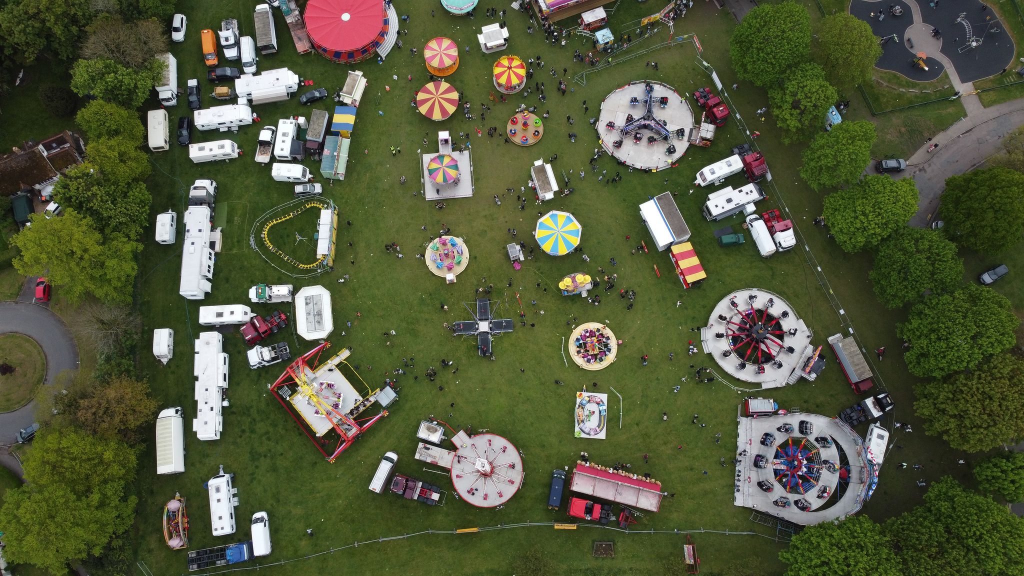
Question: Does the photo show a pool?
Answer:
No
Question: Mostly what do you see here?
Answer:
grass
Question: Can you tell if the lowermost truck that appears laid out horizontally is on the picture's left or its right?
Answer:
left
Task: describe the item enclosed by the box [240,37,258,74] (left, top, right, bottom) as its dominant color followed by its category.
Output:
white vehicle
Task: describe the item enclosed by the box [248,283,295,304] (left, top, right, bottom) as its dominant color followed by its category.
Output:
white truck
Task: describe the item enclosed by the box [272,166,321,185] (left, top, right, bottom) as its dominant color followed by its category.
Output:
white camper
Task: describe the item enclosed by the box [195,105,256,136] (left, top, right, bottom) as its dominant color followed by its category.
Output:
white trailer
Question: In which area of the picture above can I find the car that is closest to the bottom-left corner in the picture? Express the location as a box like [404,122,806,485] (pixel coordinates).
[11,421,46,447]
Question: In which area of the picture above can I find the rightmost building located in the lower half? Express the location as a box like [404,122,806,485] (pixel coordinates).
[790,340,825,381]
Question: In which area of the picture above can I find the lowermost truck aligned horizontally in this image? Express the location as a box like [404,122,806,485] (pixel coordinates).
[189,538,259,573]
